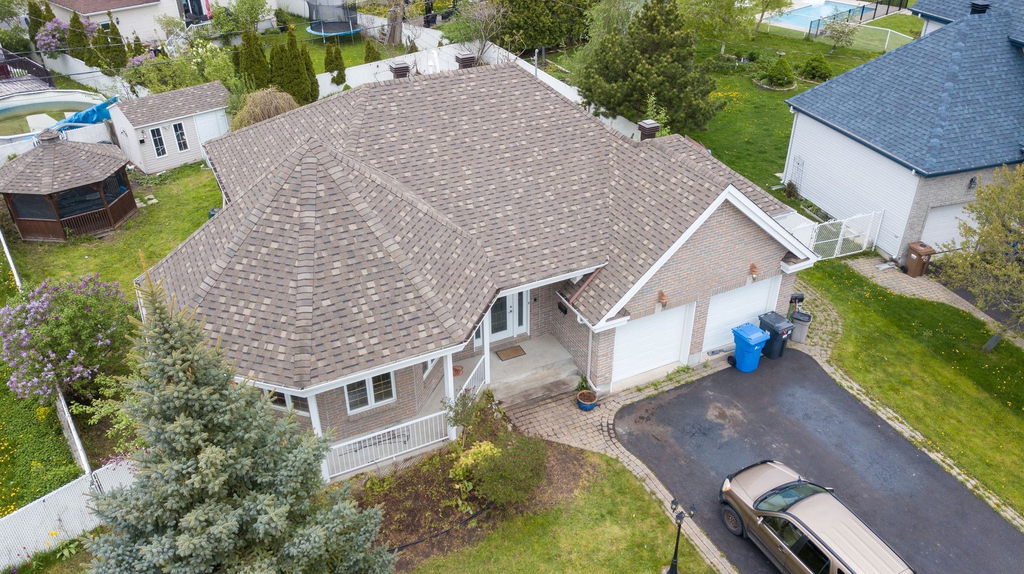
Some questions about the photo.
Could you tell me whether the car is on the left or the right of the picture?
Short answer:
right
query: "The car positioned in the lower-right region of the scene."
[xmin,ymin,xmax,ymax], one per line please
[714,465,923,574]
